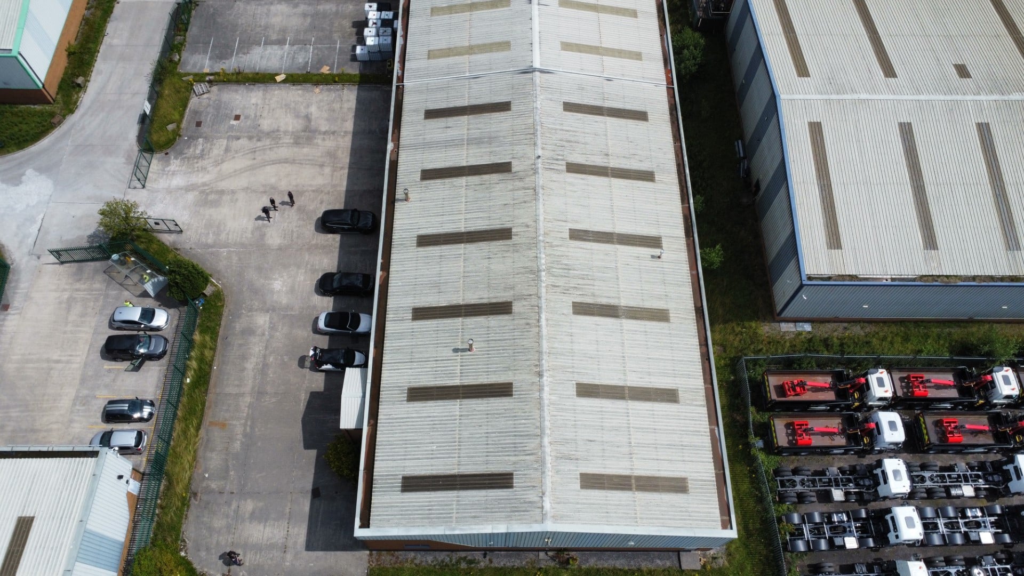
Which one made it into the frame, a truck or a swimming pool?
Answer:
truck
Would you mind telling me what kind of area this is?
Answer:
industrial area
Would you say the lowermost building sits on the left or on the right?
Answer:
left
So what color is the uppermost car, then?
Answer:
black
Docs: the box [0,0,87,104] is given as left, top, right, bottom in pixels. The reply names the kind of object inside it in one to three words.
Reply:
building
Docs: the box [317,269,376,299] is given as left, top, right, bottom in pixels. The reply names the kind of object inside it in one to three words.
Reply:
car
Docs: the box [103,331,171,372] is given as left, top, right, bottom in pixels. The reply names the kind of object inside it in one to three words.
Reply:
car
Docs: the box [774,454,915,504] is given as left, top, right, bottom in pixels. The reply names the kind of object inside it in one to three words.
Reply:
truck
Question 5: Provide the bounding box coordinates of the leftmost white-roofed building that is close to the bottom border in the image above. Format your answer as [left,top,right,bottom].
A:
[0,442,142,576]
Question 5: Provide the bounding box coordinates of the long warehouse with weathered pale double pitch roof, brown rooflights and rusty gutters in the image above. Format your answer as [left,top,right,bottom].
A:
[340,0,737,552]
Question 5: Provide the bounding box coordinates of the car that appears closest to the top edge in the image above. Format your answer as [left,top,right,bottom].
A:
[320,207,379,235]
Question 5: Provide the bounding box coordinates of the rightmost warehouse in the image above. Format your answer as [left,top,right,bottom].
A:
[727,0,1024,319]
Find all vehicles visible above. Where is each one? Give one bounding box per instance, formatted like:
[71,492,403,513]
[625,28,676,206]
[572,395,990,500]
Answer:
[308,344,370,374]
[906,455,1024,501]
[89,426,154,457]
[317,269,376,299]
[918,499,1024,547]
[102,396,159,426]
[103,331,171,372]
[110,304,171,334]
[314,308,373,338]
[763,369,897,416]
[784,500,929,553]
[888,364,1024,412]
[320,207,379,235]
[772,406,910,455]
[774,454,915,504]
[918,405,1024,451]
